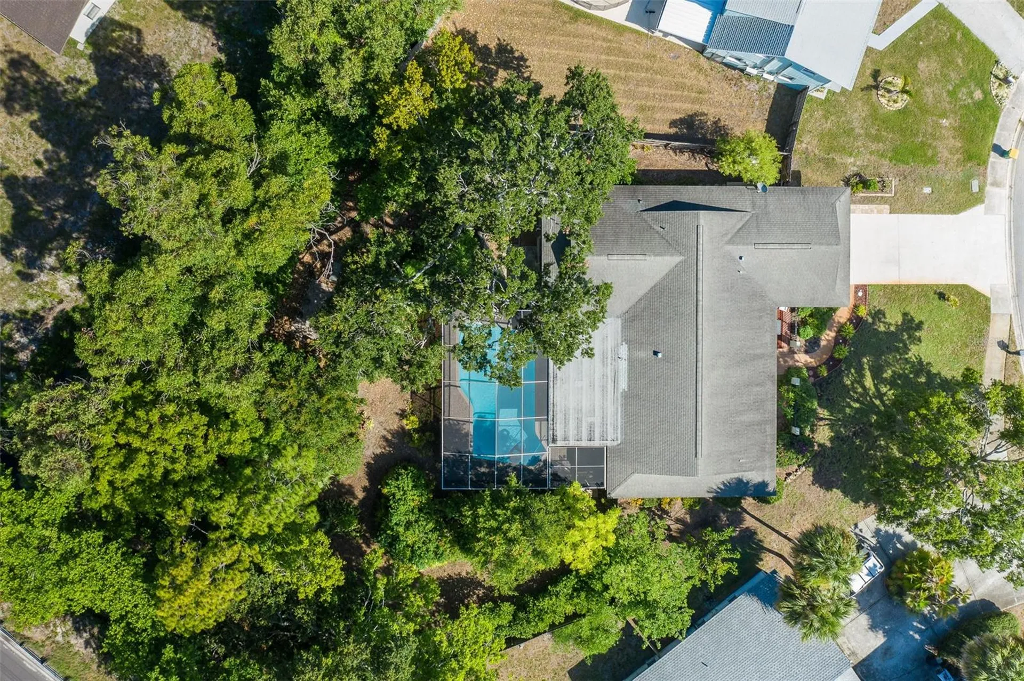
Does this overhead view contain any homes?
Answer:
Yes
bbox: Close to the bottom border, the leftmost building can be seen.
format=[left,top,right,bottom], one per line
[621,570,859,681]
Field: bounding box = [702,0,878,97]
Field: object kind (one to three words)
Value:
house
